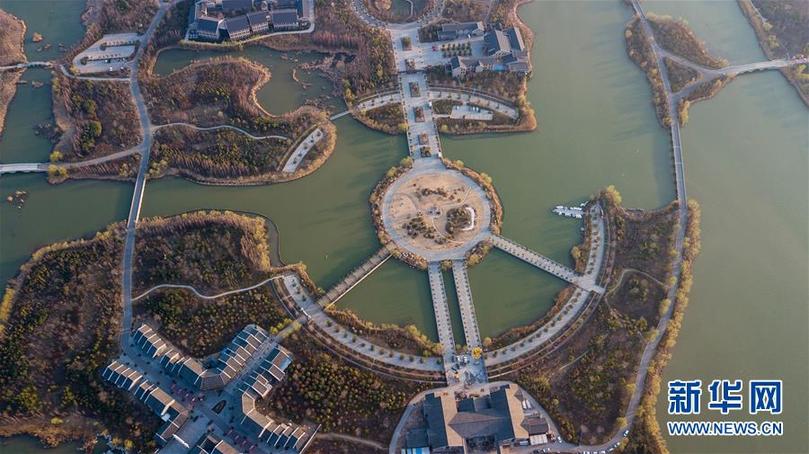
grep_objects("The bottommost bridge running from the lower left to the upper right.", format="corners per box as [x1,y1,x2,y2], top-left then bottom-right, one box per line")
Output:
[315,244,393,310]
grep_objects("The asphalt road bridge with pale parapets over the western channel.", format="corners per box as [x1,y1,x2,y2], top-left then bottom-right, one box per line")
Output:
[125,177,145,225]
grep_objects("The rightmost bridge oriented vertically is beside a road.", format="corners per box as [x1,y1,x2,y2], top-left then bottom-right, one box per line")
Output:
[671,123,690,204]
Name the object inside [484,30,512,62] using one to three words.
building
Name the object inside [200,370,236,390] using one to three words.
house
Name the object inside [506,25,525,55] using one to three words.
building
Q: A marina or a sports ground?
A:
marina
